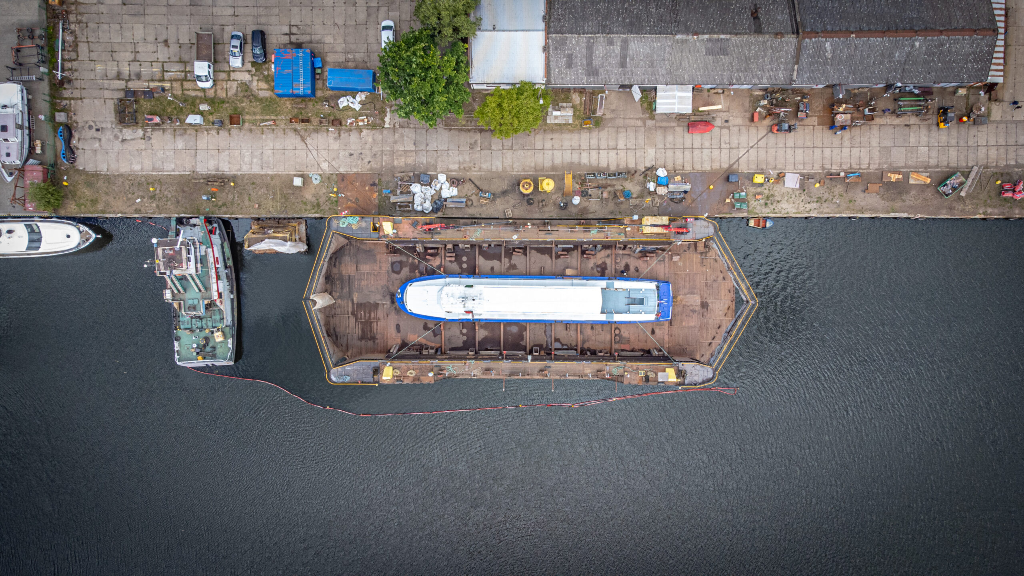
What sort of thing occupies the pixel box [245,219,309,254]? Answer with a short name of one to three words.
pier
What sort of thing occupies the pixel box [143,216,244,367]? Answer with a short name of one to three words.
ship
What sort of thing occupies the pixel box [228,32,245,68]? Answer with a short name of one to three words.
car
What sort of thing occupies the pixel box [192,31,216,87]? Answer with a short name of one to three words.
truck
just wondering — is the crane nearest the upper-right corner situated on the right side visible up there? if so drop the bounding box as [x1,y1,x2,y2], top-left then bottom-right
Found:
[570,222,701,236]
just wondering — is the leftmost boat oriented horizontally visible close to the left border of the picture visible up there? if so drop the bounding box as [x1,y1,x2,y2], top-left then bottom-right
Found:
[0,218,102,258]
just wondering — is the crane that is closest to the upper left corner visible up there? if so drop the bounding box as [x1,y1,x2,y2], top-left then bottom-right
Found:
[409,217,534,237]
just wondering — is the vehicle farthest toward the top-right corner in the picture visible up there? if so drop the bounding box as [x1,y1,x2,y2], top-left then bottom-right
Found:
[935,102,957,129]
